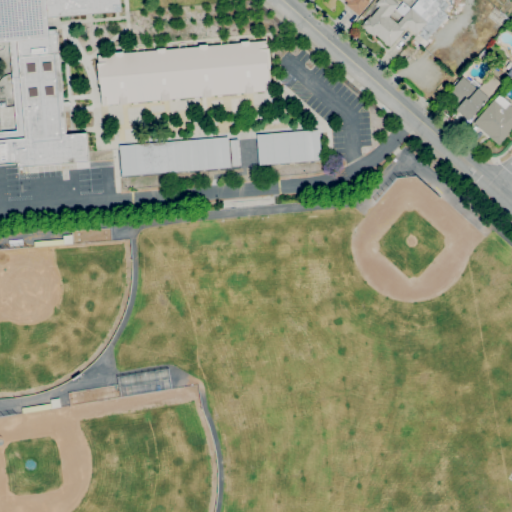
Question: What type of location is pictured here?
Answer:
sports ground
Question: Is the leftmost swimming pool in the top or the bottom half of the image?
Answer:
top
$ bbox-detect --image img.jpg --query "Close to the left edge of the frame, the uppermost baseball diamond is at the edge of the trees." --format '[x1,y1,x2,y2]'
[0,240,131,398]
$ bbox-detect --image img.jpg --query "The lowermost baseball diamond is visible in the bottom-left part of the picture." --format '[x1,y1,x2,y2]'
[0,387,217,512]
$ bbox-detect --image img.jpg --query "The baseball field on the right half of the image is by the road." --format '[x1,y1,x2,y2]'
[116,175,512,512]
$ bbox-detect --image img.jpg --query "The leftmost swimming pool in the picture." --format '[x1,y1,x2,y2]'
[464,66,491,87]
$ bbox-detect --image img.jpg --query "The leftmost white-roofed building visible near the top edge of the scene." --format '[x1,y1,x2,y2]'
[0,0,121,168]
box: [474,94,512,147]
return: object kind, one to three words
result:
house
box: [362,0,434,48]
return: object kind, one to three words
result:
house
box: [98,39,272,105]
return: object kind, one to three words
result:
building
